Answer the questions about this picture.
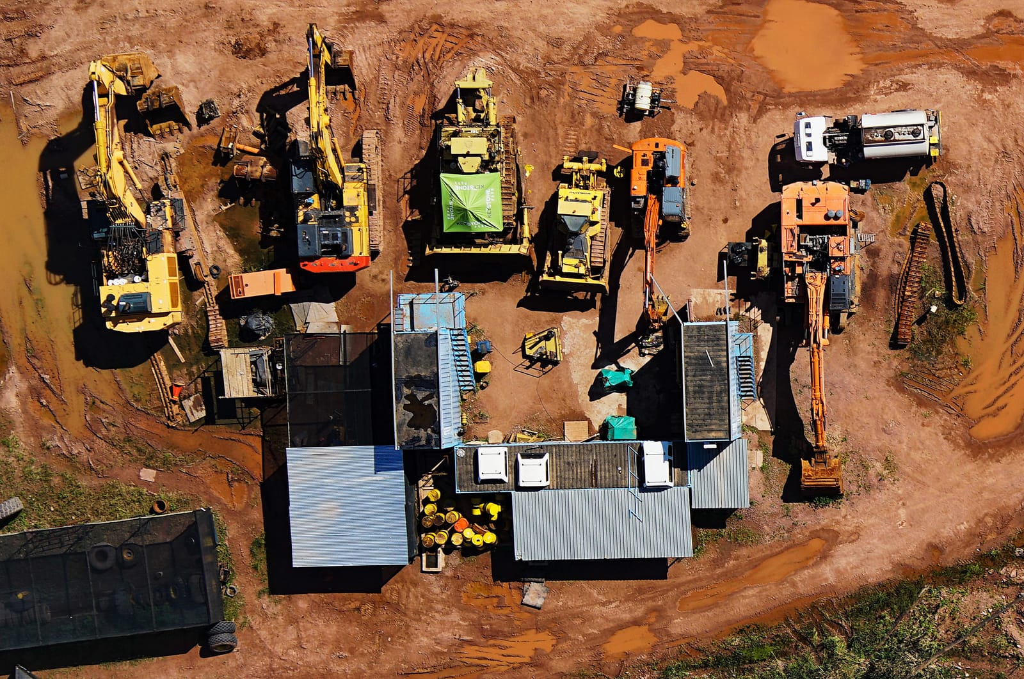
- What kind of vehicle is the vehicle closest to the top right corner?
truck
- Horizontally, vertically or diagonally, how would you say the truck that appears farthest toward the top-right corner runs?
horizontally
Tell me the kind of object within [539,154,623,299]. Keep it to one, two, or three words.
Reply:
work vehicle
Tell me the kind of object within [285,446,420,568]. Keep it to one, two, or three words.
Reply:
shed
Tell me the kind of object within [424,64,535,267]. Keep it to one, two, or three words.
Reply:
work vehicle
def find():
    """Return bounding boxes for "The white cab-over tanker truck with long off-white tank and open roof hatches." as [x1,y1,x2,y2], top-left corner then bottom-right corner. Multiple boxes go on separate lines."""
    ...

[775,106,943,165]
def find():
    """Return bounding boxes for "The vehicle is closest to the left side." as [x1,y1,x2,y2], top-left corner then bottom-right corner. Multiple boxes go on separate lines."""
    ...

[85,50,218,333]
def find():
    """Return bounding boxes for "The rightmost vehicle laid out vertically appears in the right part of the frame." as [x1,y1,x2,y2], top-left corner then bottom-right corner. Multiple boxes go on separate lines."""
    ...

[775,179,865,490]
